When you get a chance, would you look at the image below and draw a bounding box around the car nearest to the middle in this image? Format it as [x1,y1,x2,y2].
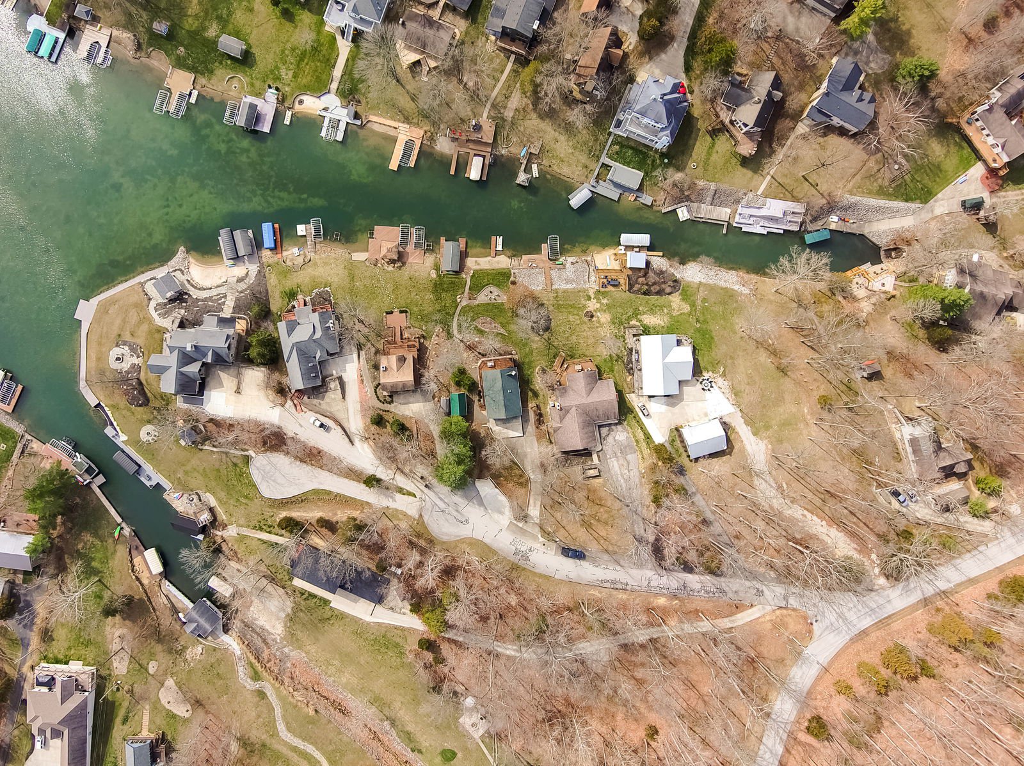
[636,401,652,418]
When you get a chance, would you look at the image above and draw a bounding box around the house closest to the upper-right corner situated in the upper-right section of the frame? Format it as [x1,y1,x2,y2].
[942,75,1024,177]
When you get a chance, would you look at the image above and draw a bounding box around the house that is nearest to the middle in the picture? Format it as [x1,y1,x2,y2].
[478,355,524,436]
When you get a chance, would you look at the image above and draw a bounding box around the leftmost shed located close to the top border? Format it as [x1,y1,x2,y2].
[73,3,97,24]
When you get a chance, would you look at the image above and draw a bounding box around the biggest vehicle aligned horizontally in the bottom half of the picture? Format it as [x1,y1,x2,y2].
[561,548,587,561]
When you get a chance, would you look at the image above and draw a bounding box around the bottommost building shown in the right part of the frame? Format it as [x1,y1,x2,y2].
[927,486,970,511]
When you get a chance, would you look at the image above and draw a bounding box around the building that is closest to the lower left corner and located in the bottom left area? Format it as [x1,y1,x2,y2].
[26,658,103,766]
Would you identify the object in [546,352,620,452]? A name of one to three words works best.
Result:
house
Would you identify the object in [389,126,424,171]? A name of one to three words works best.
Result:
pier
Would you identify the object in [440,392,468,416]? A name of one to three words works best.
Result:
shed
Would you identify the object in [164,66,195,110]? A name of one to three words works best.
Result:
pier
